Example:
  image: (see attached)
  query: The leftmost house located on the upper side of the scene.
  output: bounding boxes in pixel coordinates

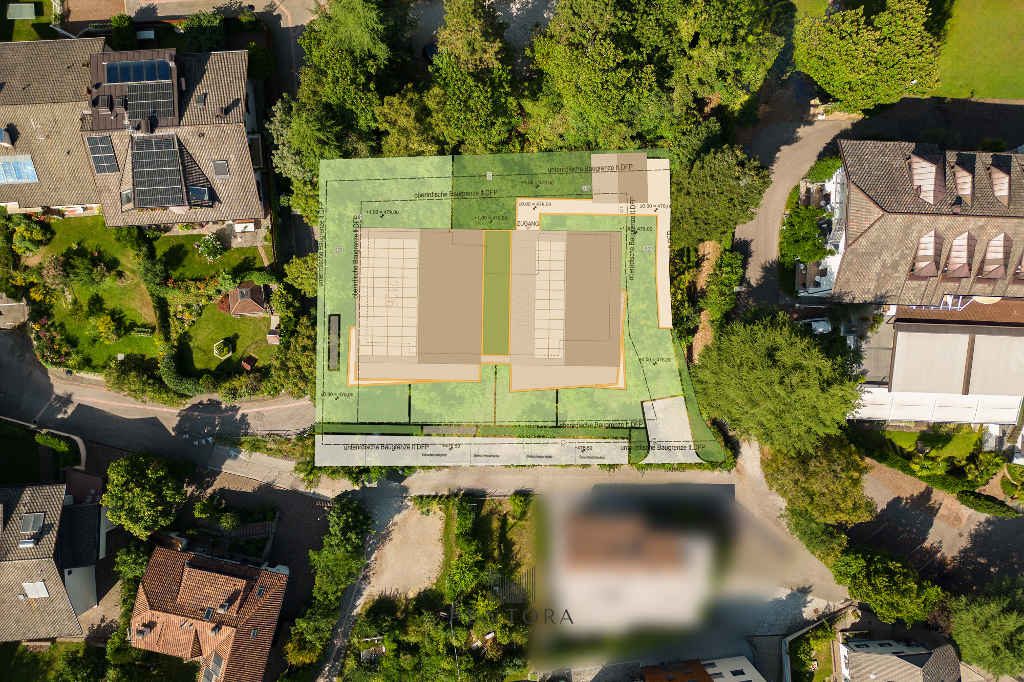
[0,36,112,210]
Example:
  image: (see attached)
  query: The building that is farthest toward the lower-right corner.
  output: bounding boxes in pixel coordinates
[825,621,961,682]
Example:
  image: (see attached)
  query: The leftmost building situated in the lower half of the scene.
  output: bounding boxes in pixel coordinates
[0,466,125,642]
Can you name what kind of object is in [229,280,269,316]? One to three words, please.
building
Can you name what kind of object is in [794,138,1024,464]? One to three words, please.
building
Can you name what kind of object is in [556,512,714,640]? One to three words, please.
house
